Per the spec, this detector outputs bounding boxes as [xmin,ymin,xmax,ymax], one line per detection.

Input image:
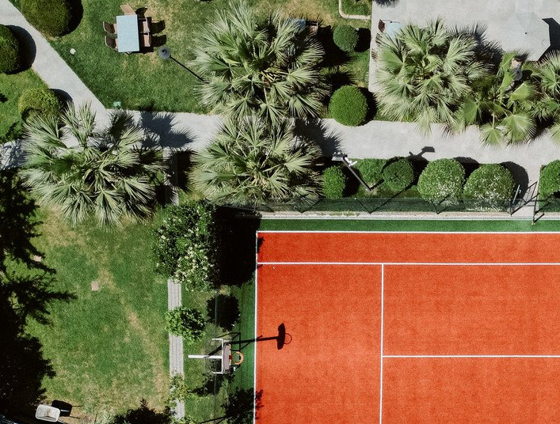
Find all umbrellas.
[502,11,550,59]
